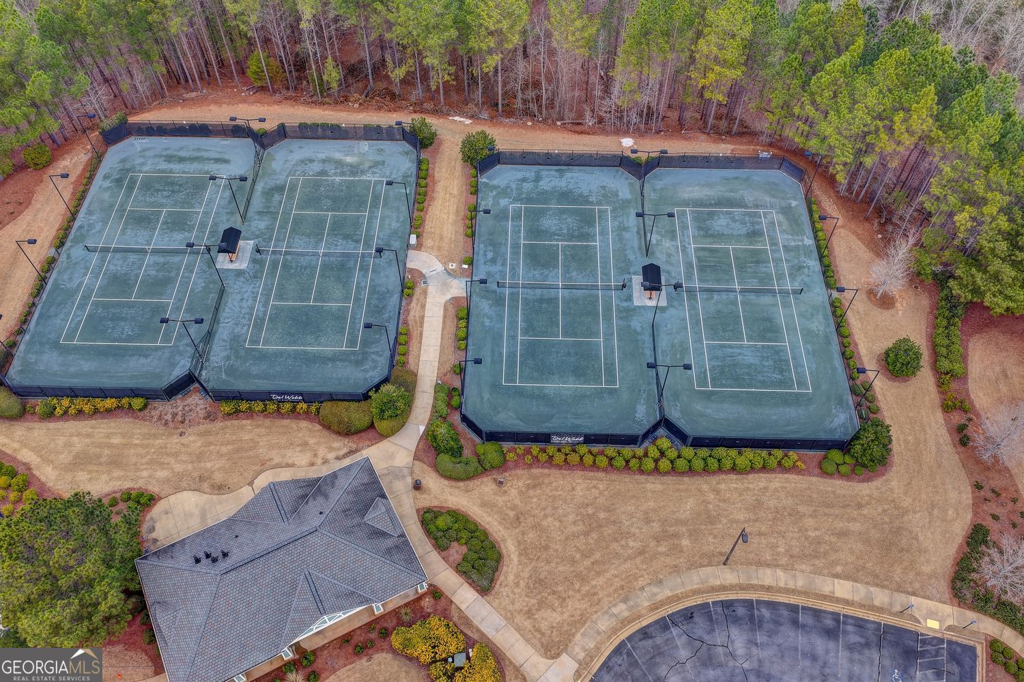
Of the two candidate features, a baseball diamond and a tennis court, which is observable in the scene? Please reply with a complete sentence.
This aerial view contains a tennis court.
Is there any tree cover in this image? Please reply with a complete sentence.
Yes, some tree cover is visible.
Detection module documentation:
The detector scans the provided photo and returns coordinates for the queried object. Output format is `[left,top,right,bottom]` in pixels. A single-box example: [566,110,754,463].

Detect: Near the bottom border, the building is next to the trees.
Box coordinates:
[136,456,432,682]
